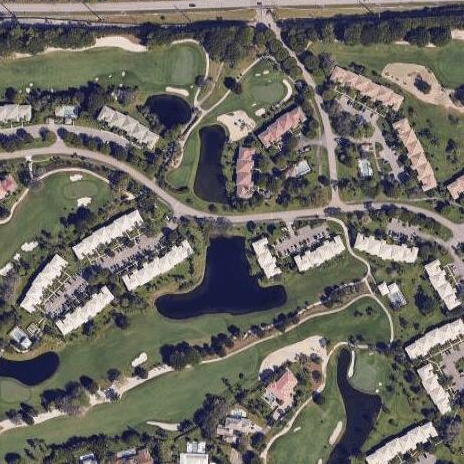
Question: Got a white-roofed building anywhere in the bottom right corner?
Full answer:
Yes, I can see a white-roofed building in the bottom right corner.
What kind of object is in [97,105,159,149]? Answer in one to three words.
building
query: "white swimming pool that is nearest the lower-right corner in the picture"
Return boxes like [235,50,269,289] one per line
[380,285,406,305]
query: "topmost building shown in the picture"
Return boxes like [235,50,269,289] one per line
[330,67,405,111]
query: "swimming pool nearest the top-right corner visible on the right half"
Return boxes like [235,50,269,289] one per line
[358,152,373,178]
